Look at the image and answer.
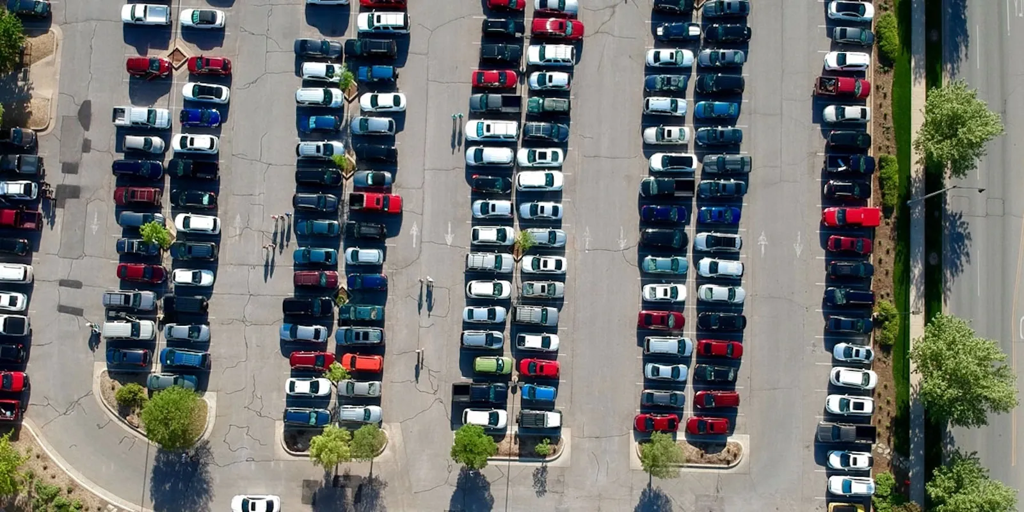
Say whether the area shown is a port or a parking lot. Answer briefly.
parking lot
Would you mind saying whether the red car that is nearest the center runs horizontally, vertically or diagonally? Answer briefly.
horizontally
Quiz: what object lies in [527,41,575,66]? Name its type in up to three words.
car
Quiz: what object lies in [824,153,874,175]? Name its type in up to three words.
truck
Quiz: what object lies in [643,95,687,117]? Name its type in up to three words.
car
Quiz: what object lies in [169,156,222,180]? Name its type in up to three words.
truck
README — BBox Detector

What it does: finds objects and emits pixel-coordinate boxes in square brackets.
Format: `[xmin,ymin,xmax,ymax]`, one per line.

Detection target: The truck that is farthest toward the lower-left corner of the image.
[0,400,23,421]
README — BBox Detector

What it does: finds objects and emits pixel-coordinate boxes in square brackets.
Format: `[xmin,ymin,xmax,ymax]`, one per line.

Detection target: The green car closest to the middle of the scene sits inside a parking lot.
[474,356,513,376]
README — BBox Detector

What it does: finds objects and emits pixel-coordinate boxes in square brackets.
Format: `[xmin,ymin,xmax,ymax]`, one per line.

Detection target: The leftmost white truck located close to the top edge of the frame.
[122,1,173,26]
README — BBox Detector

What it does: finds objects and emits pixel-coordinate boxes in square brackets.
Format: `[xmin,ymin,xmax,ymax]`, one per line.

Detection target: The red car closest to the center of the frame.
[520,358,560,378]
